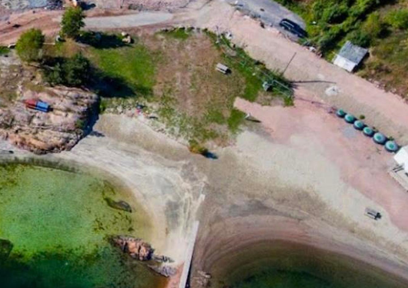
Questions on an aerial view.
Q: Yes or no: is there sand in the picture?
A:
Yes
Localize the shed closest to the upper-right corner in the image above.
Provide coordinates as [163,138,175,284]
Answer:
[329,41,369,79]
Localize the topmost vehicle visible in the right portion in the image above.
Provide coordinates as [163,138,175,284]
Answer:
[275,13,310,40]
